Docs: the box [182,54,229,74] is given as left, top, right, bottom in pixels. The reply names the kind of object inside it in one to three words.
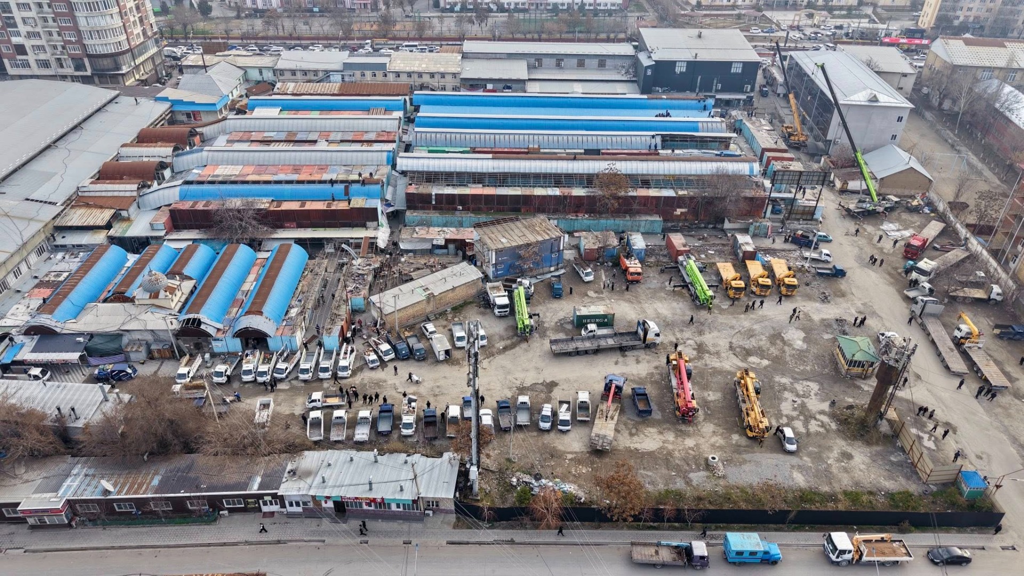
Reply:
building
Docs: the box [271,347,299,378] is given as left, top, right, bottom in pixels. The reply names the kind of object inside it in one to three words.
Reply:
truck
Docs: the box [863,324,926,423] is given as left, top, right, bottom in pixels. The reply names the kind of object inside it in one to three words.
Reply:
water tower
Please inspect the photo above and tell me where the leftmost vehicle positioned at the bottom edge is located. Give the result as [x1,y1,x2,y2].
[628,528,715,568]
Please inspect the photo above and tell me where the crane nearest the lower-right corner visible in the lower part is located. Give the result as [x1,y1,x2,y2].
[730,355,773,444]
